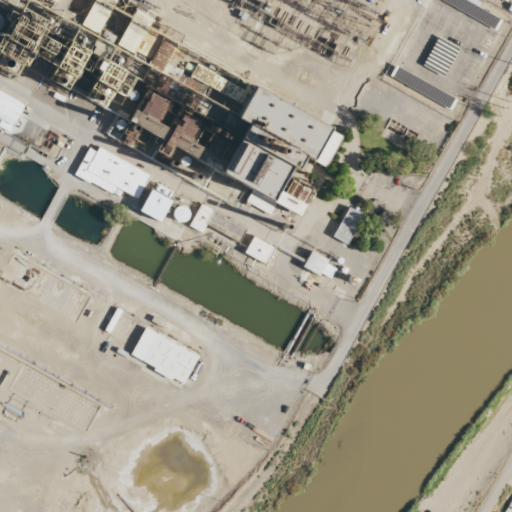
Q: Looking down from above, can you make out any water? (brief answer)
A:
Yes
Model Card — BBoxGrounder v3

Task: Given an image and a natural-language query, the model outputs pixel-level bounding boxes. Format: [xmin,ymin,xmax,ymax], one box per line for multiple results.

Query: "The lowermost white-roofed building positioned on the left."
[132,327,202,383]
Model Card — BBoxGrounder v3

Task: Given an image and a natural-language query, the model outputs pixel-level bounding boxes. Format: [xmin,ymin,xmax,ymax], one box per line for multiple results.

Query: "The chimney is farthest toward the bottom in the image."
[278,221,294,233]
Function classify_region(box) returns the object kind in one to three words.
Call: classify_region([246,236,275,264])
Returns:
building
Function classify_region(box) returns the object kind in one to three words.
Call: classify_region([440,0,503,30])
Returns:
shed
